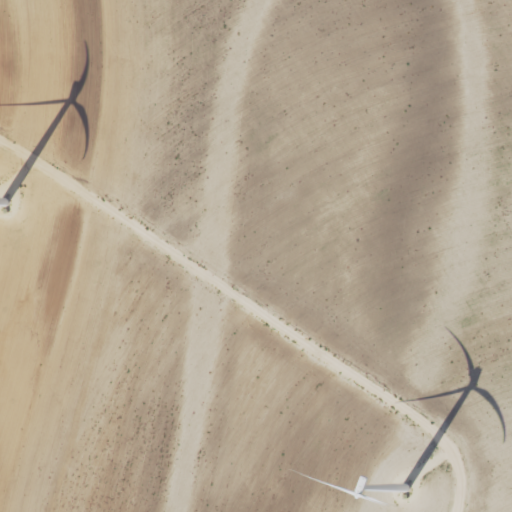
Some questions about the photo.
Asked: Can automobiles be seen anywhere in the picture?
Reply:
No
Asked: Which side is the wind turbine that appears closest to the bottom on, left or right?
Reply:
right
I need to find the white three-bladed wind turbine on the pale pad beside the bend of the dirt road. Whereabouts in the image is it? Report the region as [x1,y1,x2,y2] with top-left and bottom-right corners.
[294,474,412,512]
